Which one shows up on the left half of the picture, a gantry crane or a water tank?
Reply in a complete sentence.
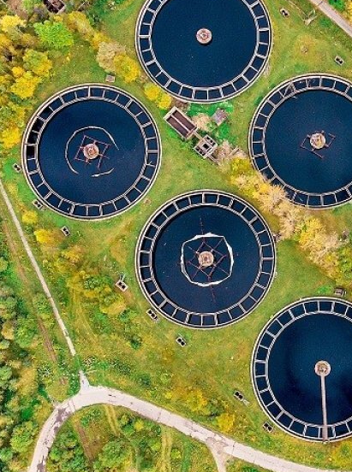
The feature located on the left half of the picture is a water tank.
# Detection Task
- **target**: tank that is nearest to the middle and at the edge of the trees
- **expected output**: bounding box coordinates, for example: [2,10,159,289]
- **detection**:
[134,189,277,331]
